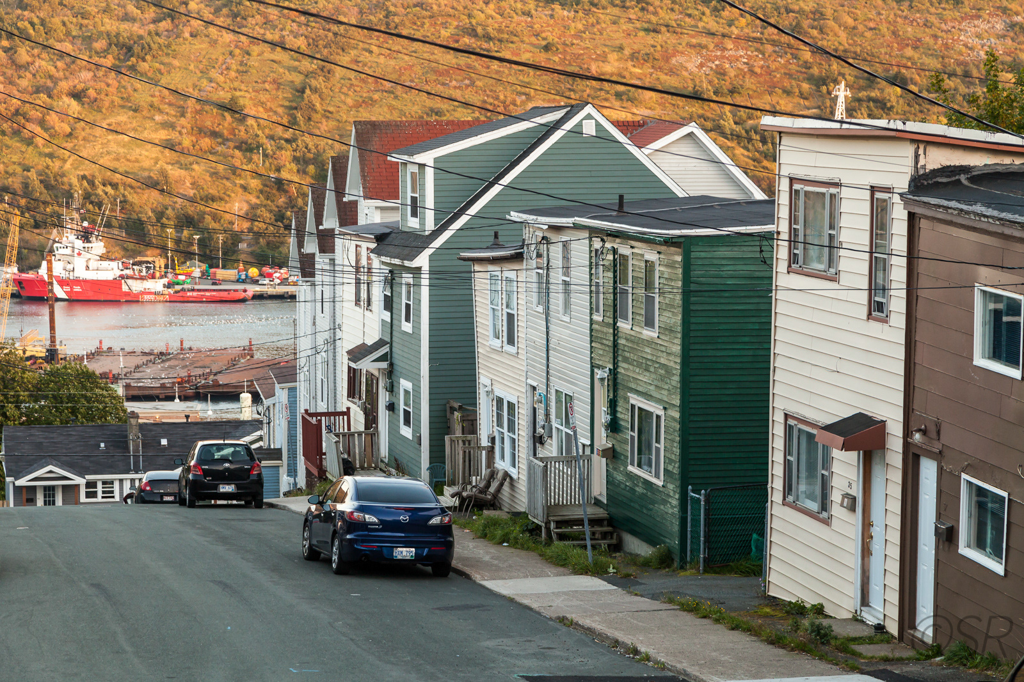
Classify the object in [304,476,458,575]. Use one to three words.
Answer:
car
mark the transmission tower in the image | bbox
[832,80,851,117]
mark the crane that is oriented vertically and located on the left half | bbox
[0,192,24,360]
